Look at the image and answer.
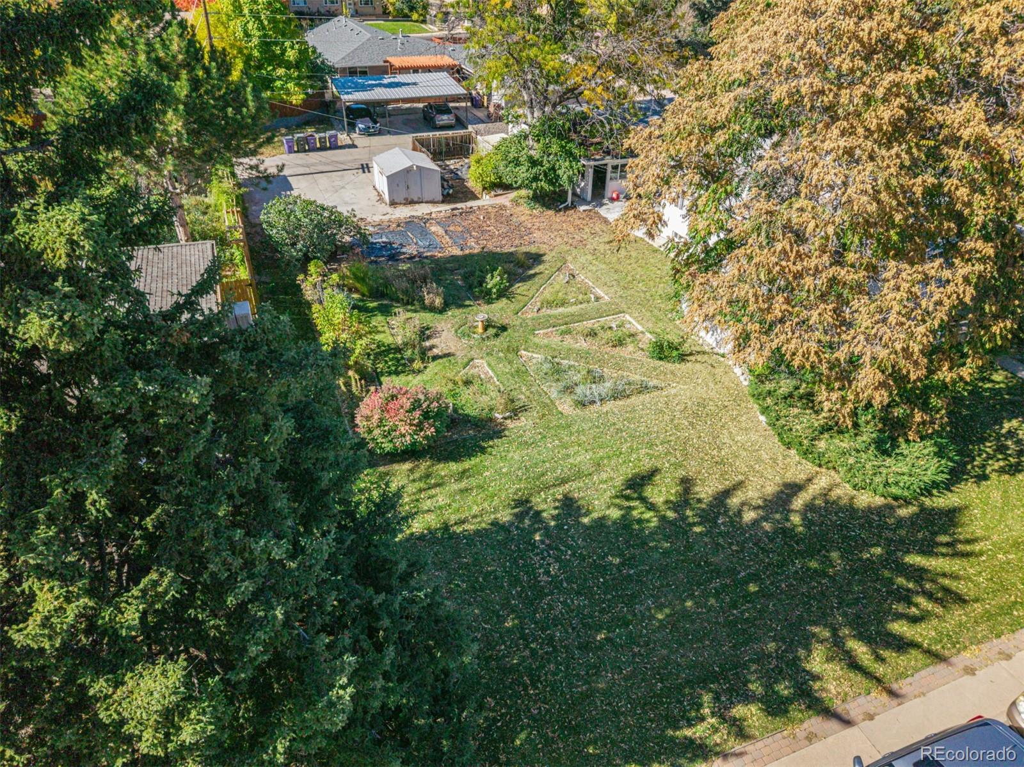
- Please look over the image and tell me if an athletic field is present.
No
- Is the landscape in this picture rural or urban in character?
rural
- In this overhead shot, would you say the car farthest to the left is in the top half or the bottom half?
top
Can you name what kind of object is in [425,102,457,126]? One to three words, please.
car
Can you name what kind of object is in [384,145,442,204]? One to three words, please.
shed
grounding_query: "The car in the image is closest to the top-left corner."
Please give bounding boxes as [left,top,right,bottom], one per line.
[351,105,381,133]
